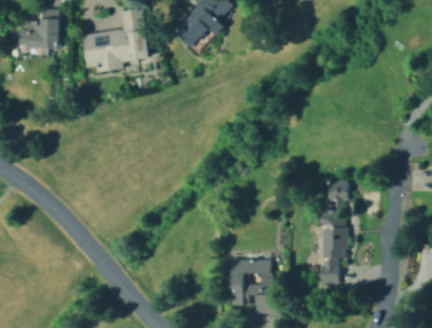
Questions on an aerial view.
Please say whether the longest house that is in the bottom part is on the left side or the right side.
right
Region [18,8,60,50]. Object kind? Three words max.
house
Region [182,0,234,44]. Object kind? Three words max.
house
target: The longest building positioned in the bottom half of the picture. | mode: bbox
[320,180,350,286]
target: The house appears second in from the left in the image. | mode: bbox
[83,10,148,74]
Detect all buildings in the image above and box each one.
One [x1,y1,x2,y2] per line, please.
[182,0,234,44]
[320,180,350,286]
[83,10,148,74]
[230,258,274,306]
[18,8,60,50]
